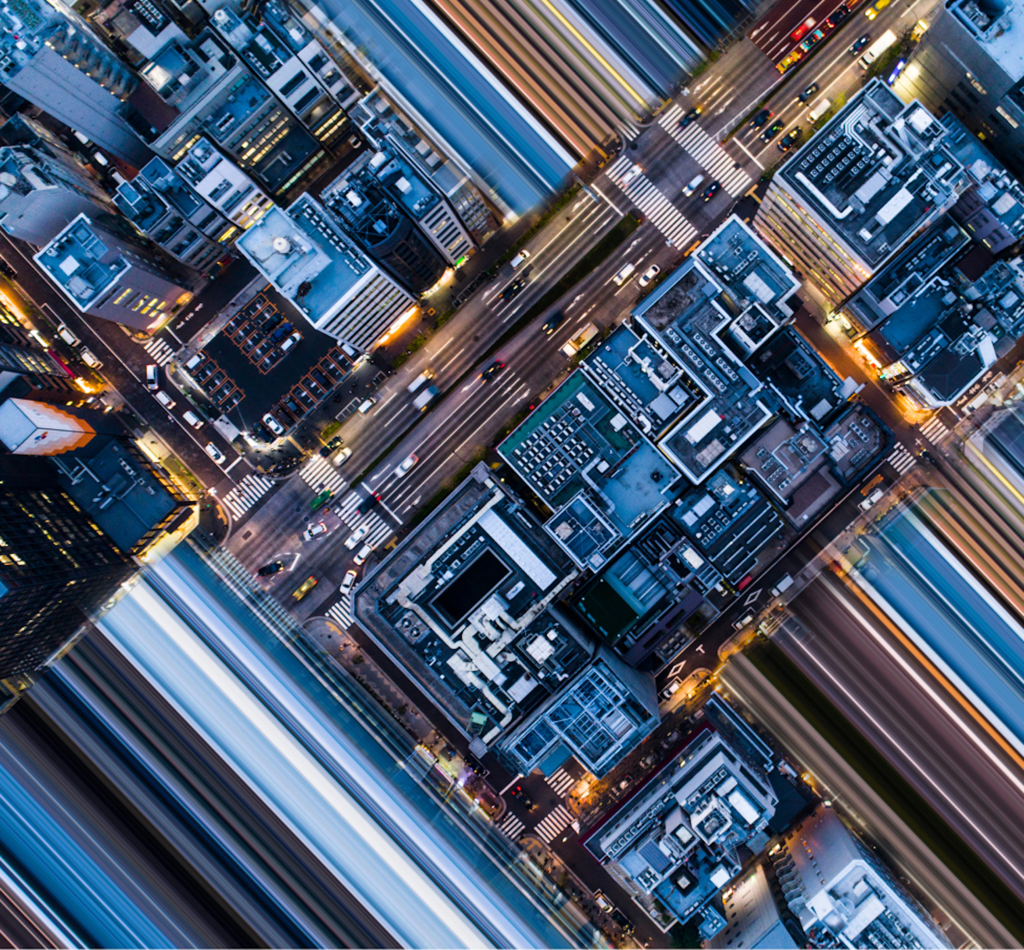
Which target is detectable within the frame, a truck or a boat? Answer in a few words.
truck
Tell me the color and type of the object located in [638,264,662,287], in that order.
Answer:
white car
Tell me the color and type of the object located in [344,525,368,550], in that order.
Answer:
white car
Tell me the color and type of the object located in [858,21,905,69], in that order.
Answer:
white truck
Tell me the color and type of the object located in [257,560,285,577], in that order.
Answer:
black car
